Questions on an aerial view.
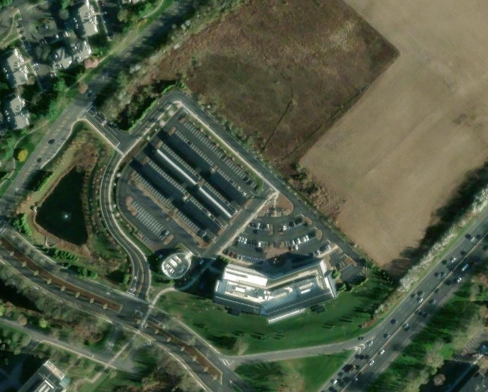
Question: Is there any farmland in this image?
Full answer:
Yes, some farmland is visible.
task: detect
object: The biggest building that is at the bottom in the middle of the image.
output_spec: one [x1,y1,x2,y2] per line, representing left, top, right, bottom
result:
[212,256,341,323]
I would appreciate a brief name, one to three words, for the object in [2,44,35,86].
house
